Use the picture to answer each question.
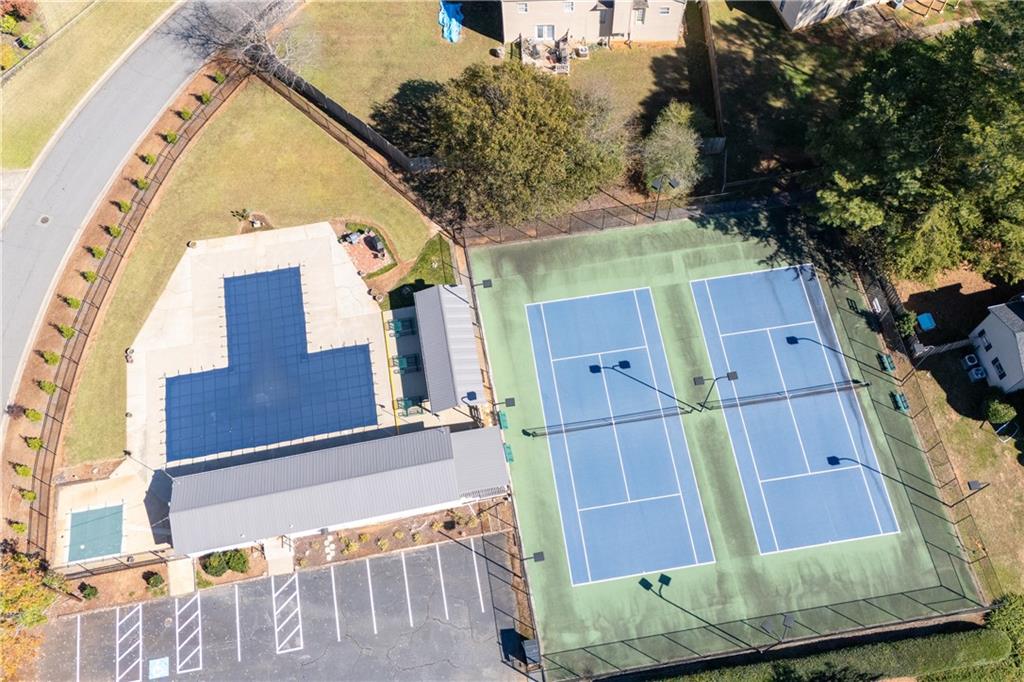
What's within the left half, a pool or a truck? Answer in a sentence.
The feature located within the left half is a pool.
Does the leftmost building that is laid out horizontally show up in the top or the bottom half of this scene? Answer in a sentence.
Seen from above, the leftmost building that is laid out horizontally lies in the bottom half of the view.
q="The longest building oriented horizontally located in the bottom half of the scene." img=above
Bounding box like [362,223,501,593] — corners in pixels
[170,425,463,556]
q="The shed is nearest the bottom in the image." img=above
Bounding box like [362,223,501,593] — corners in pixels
[518,638,545,673]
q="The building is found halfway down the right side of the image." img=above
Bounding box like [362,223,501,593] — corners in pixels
[970,299,1024,394]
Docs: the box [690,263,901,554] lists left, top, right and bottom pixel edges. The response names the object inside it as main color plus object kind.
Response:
blue tennis court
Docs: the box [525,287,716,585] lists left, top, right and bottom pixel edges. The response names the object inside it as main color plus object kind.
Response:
blue tennis court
